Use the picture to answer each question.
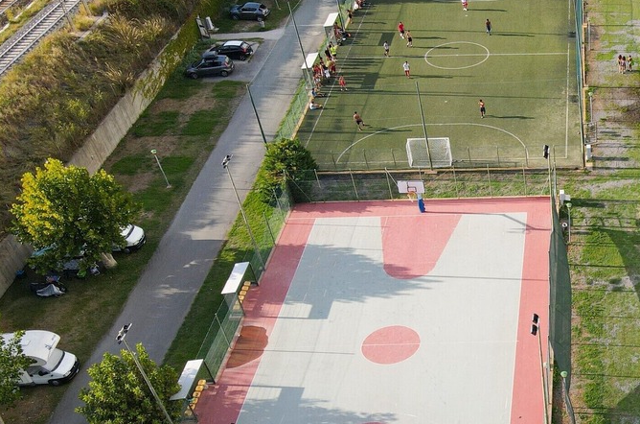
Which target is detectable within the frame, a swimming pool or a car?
car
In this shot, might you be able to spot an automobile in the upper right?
No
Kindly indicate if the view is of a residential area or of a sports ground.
sports ground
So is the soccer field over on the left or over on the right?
right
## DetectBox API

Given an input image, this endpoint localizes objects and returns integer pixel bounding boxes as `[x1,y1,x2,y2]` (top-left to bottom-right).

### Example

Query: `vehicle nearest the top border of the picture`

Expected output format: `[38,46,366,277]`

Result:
[229,4,272,23]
